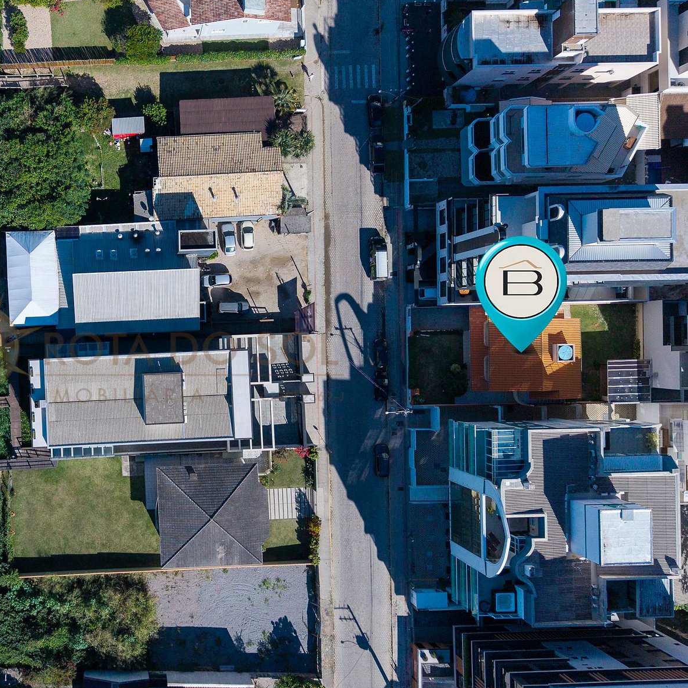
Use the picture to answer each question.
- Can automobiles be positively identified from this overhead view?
Yes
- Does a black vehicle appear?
Yes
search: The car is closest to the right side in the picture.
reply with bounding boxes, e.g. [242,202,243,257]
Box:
[412,285,435,301]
